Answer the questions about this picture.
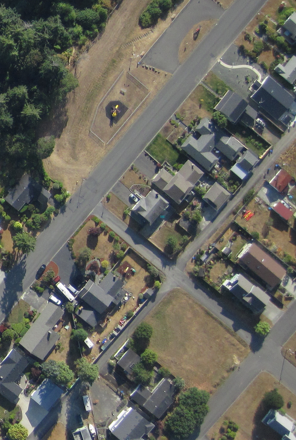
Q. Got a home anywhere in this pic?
Yes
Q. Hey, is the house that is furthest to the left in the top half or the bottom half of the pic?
bottom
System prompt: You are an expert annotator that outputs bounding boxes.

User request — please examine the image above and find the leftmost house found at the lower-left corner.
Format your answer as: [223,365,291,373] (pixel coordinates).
[0,350,29,405]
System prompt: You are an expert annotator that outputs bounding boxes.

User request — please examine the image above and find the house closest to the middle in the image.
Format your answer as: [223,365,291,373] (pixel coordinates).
[130,188,168,225]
